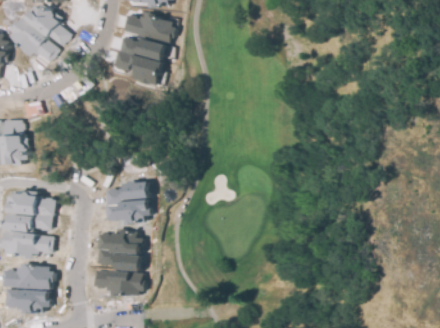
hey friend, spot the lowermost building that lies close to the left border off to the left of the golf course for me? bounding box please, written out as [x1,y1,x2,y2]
[4,265,53,315]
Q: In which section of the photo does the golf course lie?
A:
center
